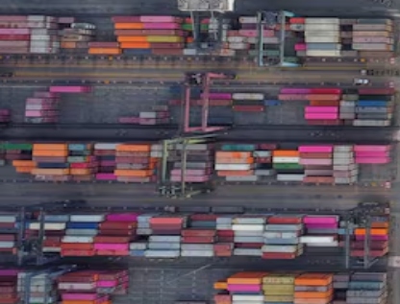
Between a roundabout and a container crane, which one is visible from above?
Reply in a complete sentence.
The image shows a container crane.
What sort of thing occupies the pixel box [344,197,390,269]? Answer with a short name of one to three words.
container crane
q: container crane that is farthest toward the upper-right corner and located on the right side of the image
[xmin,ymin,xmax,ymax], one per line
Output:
[259,9,309,68]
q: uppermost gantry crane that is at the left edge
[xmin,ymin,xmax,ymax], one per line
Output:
[17,196,82,267]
